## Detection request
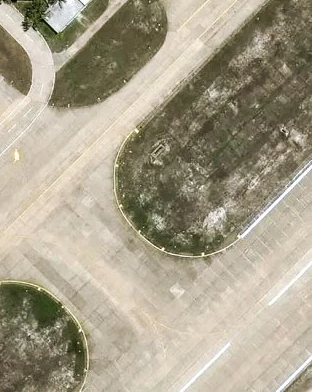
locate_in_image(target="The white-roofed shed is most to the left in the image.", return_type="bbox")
[41,0,85,32]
